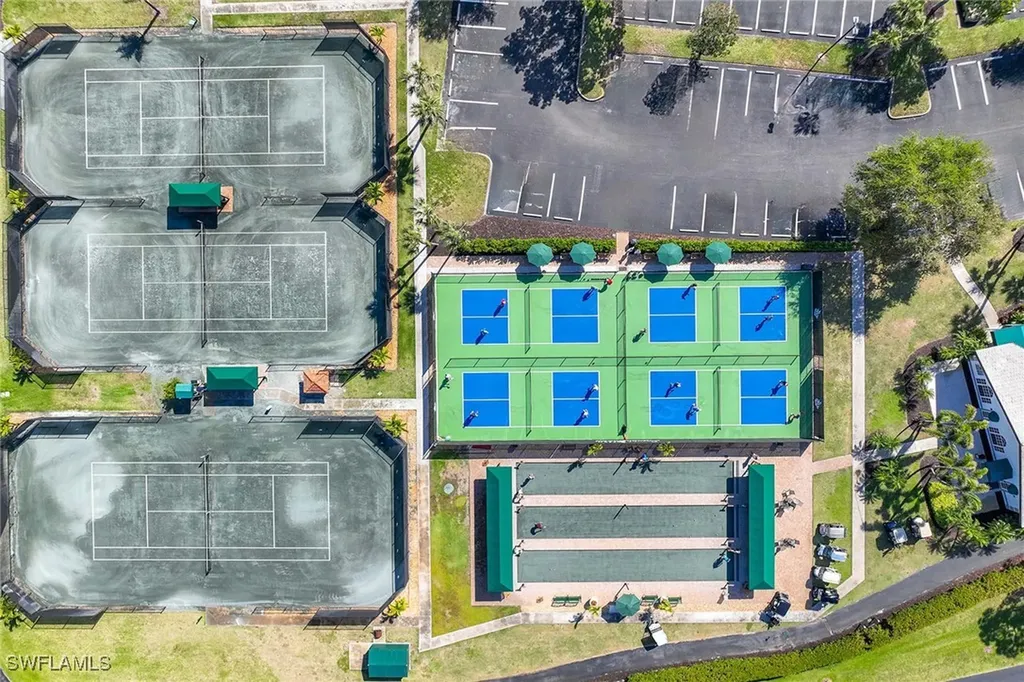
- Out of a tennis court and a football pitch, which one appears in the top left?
tennis court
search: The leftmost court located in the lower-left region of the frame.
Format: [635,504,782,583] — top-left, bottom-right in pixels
[8,416,408,609]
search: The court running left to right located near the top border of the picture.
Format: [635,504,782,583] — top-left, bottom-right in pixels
[18,31,390,202]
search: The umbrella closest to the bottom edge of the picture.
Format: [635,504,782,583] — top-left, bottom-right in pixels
[615,591,641,617]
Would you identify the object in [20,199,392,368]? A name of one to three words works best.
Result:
tennis court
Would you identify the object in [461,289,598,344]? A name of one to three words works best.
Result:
sports court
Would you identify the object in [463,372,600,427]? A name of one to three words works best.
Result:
sports court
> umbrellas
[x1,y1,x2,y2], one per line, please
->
[705,239,731,266]
[569,240,596,267]
[615,591,641,617]
[657,241,682,267]
[527,242,553,268]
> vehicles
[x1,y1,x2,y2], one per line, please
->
[645,613,666,644]
[769,586,790,616]
[907,511,932,539]
[810,584,840,603]
[882,516,907,544]
[810,563,840,585]
[817,543,847,563]
[816,521,845,537]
